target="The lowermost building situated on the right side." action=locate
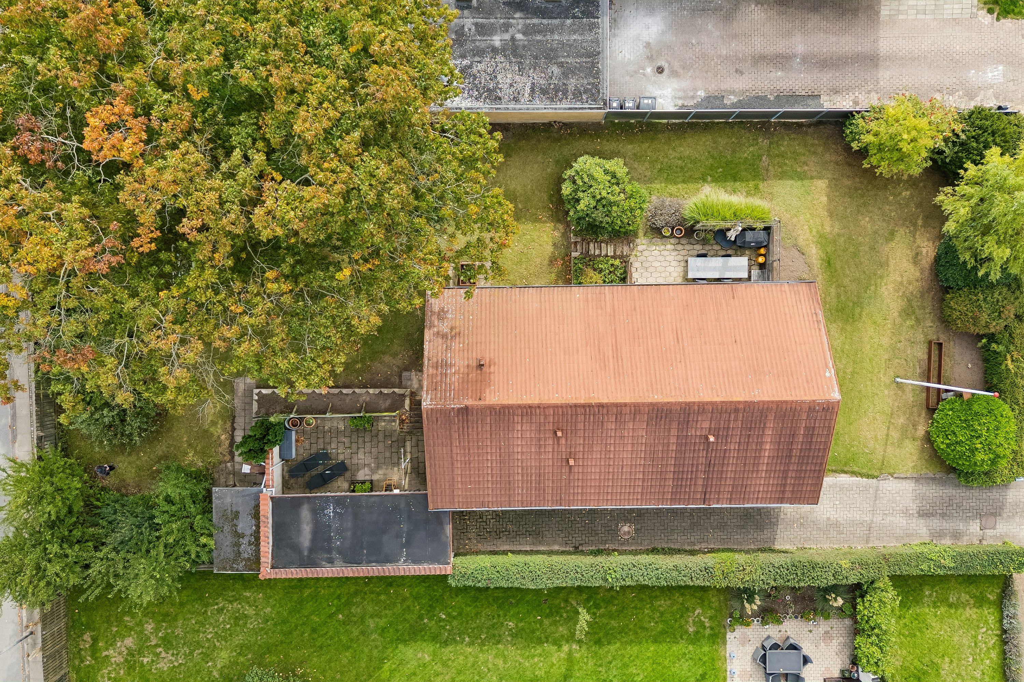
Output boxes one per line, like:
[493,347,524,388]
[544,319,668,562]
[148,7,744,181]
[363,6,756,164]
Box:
[421,279,842,513]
